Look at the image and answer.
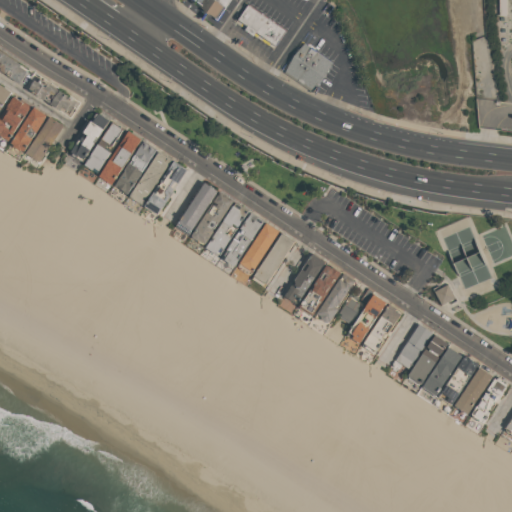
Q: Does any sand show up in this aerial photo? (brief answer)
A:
Yes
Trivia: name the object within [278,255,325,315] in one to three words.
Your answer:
house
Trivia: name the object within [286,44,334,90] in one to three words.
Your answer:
building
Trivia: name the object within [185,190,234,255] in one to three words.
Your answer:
house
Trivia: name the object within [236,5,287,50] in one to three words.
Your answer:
building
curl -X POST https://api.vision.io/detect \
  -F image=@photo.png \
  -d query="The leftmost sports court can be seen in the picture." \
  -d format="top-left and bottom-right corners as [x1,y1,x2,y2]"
[444,228,491,288]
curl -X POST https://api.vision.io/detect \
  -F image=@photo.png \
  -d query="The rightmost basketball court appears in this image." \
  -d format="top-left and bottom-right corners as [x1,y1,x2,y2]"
[484,228,512,262]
